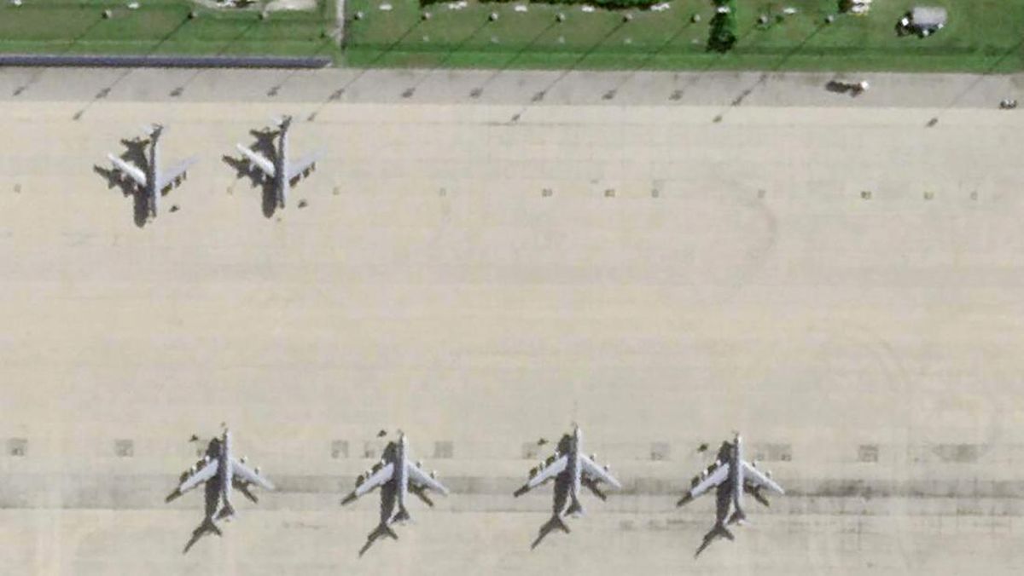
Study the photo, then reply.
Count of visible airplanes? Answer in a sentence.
In total, there are 6 airplanes in the scene.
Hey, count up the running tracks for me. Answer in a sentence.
Not a single running track can be seen.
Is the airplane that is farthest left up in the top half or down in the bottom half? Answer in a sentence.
Seen from above, the airplane that is farthest left lies in the top half of the view.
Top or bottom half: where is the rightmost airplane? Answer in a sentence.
You can find the rightmost airplane in the bottom half.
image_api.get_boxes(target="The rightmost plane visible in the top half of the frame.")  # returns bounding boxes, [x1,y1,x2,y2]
[237,116,330,207]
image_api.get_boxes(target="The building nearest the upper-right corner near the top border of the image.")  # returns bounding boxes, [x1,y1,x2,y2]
[910,7,946,25]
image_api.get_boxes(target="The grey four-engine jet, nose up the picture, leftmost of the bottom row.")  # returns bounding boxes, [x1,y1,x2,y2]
[181,431,274,520]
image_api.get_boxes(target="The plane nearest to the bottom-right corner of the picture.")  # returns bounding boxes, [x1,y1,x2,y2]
[693,435,786,524]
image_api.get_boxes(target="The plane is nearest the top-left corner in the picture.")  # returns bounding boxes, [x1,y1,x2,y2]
[108,125,201,217]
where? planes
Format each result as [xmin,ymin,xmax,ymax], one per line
[181,431,274,520]
[237,116,330,207]
[531,427,624,519]
[108,125,201,217]
[693,435,786,524]
[357,435,450,524]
